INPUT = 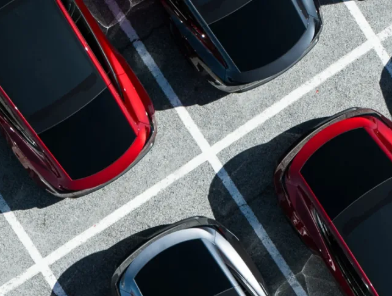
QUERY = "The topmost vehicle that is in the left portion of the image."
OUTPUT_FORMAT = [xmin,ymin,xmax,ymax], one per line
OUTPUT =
[0,0,160,202]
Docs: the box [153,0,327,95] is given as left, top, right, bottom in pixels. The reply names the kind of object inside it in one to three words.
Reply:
car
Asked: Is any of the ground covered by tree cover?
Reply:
No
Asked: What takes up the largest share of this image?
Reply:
paved ground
